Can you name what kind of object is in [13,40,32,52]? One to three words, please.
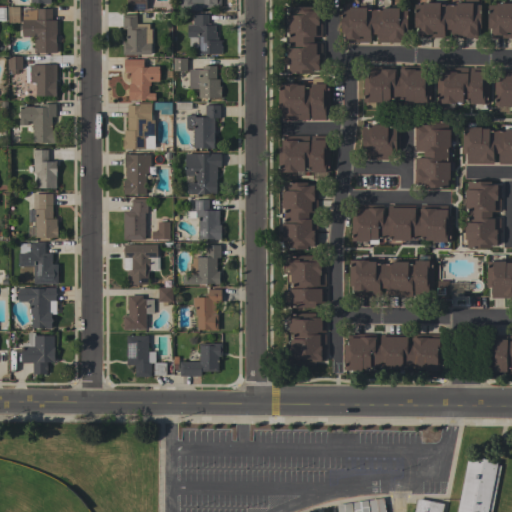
swimming pool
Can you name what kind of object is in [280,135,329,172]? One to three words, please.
house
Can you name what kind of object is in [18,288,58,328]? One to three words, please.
house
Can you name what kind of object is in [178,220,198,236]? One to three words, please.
swimming pool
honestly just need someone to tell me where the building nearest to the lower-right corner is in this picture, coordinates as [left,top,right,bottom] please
[459,460,502,512]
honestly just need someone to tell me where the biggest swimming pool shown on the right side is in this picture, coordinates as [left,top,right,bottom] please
[448,260,475,278]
